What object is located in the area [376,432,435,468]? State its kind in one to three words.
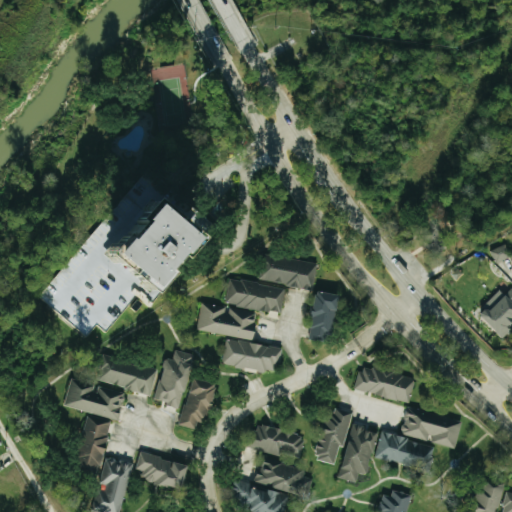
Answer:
house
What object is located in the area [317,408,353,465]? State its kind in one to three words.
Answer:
house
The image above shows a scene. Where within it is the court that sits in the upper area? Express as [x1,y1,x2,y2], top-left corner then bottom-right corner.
[150,65,190,135]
